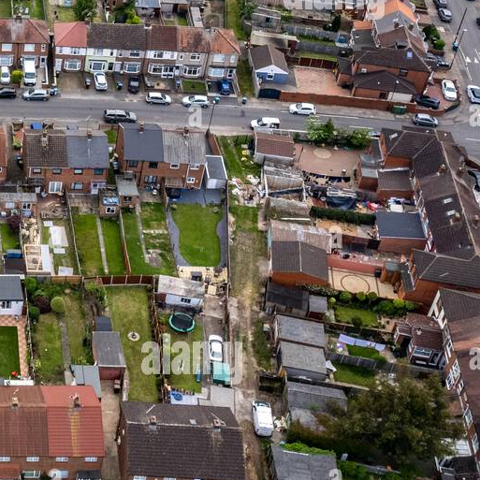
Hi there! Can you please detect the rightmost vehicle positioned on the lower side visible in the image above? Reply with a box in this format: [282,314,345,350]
[251,399,277,437]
